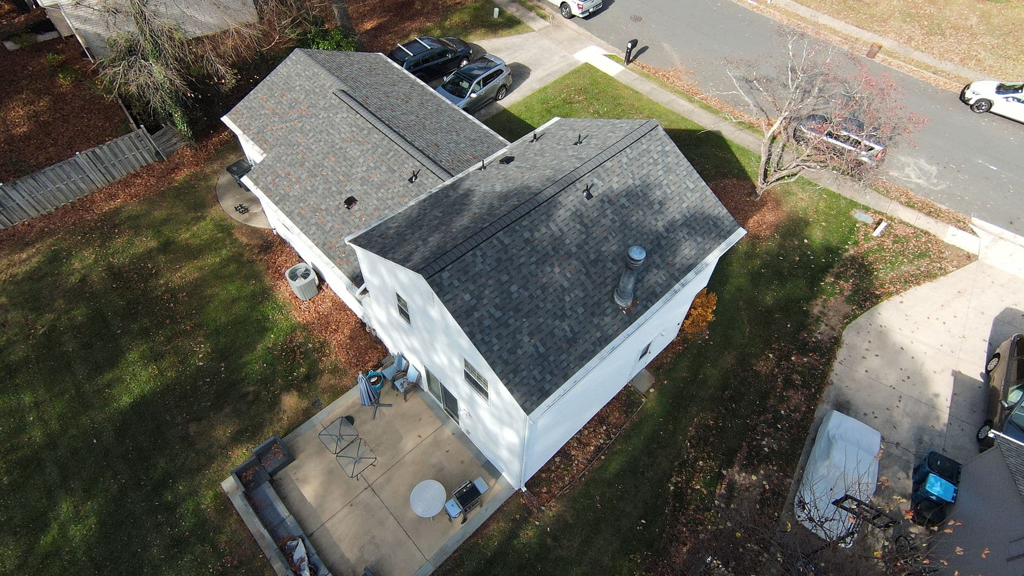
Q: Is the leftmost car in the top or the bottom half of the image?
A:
top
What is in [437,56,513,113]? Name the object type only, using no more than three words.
car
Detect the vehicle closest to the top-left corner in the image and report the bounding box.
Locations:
[390,30,474,81]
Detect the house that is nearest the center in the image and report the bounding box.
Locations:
[220,49,748,499]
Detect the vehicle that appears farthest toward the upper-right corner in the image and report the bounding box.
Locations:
[960,73,1024,125]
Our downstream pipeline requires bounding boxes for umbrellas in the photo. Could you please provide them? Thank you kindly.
[361,368,391,418]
